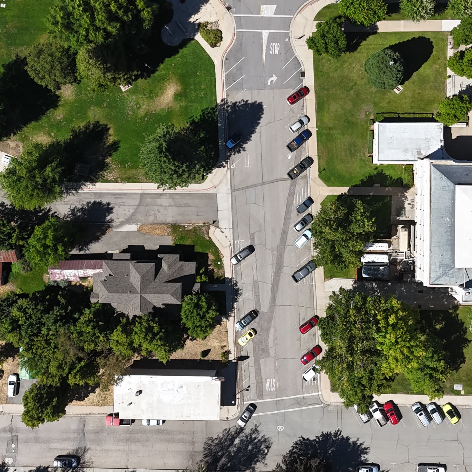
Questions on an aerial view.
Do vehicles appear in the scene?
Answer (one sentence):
Yes, a vehicle is visible in the scene.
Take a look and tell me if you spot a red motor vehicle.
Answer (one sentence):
Yes, the image includes a red motor vehicle.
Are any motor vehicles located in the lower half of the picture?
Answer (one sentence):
Yes, looking in the lower half of the picture, one can make out a motor vehicle.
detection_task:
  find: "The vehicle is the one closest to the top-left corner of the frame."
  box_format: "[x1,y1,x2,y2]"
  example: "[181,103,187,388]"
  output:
[225,133,243,149]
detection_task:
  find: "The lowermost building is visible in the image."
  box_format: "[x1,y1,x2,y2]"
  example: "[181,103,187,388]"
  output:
[114,369,225,420]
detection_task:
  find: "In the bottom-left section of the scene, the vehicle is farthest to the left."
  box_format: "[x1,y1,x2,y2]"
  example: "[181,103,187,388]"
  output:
[6,374,18,397]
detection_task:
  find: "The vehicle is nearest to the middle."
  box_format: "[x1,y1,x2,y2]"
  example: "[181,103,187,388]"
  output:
[231,244,255,266]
